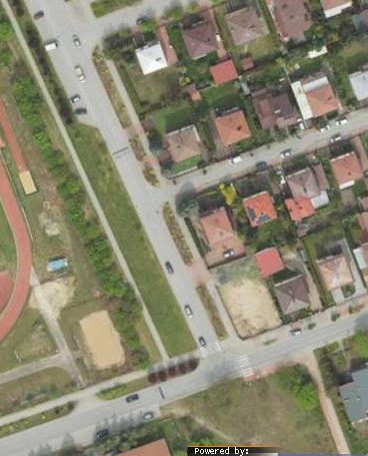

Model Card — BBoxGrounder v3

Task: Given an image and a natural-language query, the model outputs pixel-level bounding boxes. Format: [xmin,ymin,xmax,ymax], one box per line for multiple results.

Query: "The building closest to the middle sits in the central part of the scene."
[200,208,237,245]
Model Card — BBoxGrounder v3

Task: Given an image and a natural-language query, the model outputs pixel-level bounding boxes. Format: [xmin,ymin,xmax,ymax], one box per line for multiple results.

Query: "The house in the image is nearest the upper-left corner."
[136,40,170,74]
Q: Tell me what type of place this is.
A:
residential area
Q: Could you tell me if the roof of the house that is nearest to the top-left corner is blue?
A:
No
